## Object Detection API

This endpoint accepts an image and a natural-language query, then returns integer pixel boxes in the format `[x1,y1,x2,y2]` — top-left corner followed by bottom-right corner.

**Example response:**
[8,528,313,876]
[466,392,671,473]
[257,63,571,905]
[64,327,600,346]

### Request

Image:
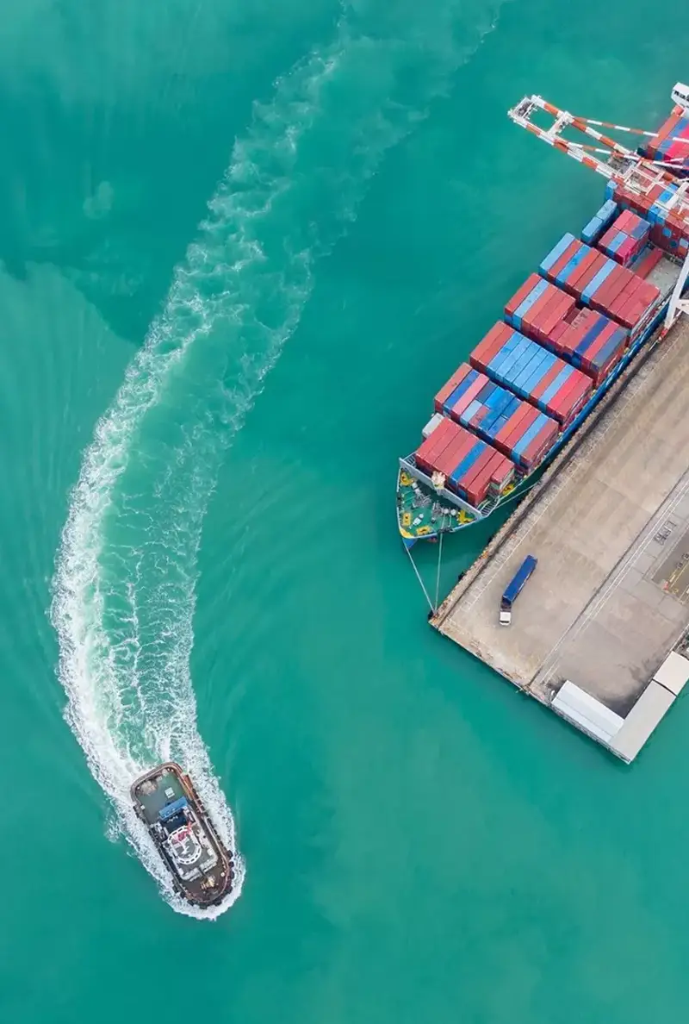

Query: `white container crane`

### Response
[508,87,689,344]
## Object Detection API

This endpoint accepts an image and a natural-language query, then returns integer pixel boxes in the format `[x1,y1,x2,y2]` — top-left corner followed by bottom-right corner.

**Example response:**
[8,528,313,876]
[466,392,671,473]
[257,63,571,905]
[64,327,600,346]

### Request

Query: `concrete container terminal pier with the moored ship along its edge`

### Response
[427,292,689,770]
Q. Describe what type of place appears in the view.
port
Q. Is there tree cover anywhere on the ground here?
No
